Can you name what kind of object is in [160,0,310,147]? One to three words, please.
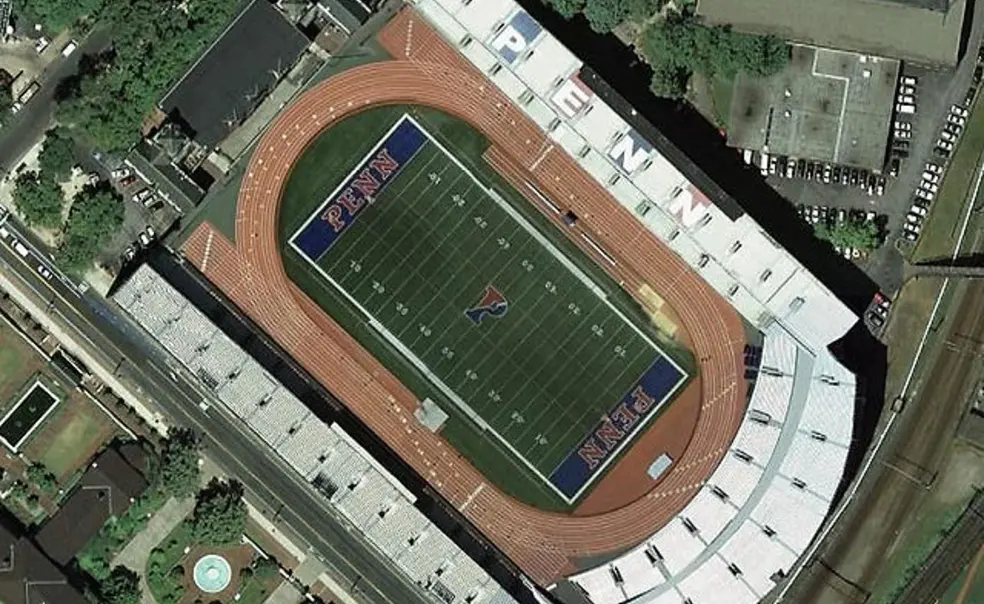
building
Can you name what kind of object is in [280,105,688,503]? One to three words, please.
sports field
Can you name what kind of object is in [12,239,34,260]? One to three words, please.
vehicle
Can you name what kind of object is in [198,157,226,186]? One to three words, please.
house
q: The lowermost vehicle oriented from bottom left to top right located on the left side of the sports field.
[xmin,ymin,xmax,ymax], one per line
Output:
[122,244,135,260]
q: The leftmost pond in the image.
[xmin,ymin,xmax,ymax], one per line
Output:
[0,379,61,450]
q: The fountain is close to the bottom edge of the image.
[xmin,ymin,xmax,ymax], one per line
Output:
[193,554,232,592]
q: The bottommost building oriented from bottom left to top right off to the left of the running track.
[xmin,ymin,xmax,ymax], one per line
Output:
[32,436,156,567]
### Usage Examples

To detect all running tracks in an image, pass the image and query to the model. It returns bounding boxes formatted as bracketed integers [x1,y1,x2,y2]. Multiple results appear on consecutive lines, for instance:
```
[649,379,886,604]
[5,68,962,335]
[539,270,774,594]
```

[178,5,745,589]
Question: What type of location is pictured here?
sports ground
